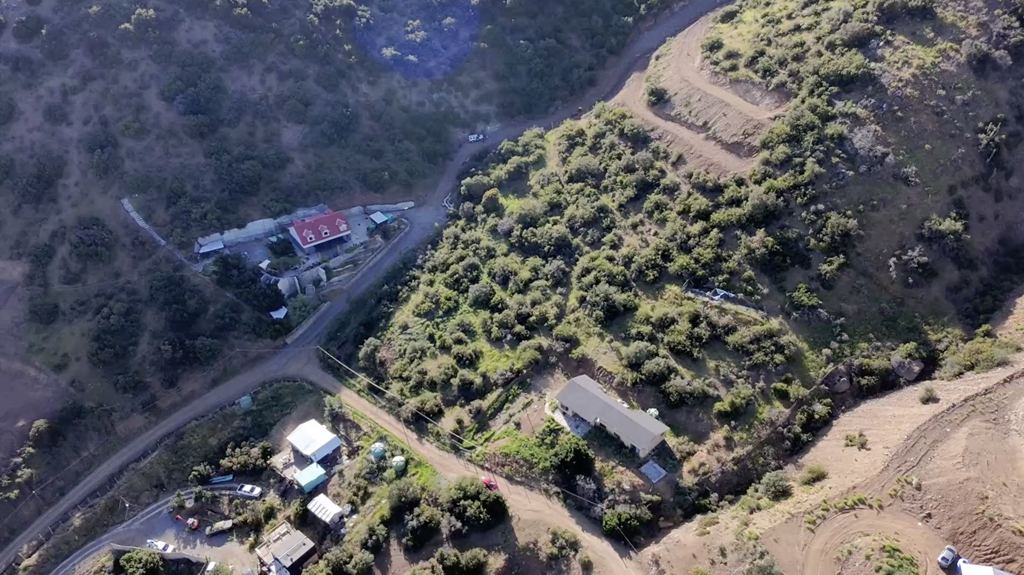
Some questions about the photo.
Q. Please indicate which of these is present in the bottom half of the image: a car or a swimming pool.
car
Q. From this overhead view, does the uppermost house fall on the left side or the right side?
left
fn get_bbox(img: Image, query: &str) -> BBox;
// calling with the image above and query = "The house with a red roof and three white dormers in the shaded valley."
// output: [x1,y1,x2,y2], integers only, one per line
[284,206,353,256]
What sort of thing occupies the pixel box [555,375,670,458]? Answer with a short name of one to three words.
house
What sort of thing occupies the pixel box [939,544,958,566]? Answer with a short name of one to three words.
car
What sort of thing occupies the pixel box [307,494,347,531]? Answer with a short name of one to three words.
shed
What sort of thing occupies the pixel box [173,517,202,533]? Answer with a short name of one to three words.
work vehicle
